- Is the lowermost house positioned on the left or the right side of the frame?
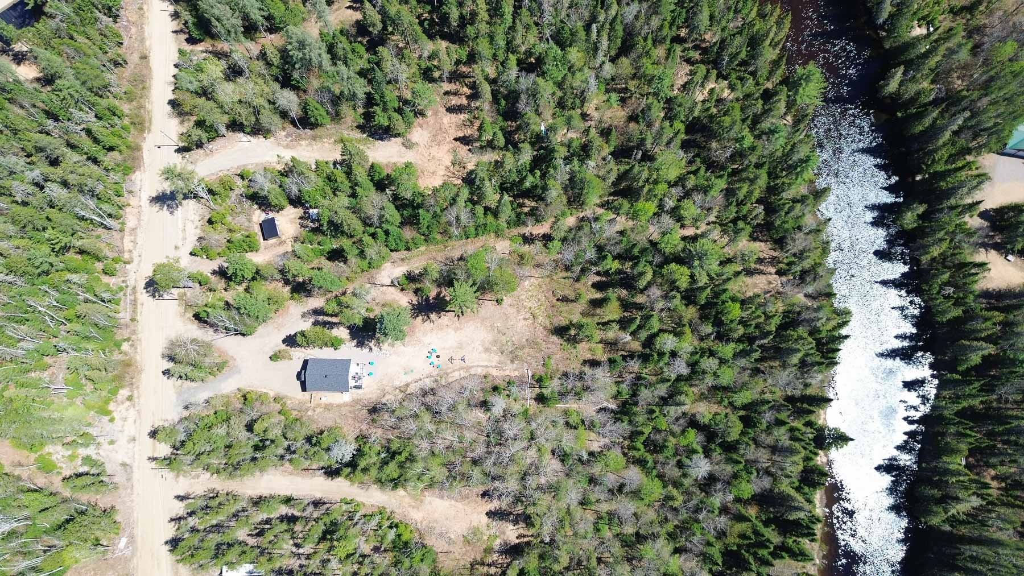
left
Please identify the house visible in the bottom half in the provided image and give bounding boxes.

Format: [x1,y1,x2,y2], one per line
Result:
[300,358,368,395]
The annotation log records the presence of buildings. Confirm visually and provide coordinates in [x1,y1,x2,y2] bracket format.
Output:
[0,0,53,27]
[262,218,282,245]
[300,358,368,395]
[996,121,1024,162]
